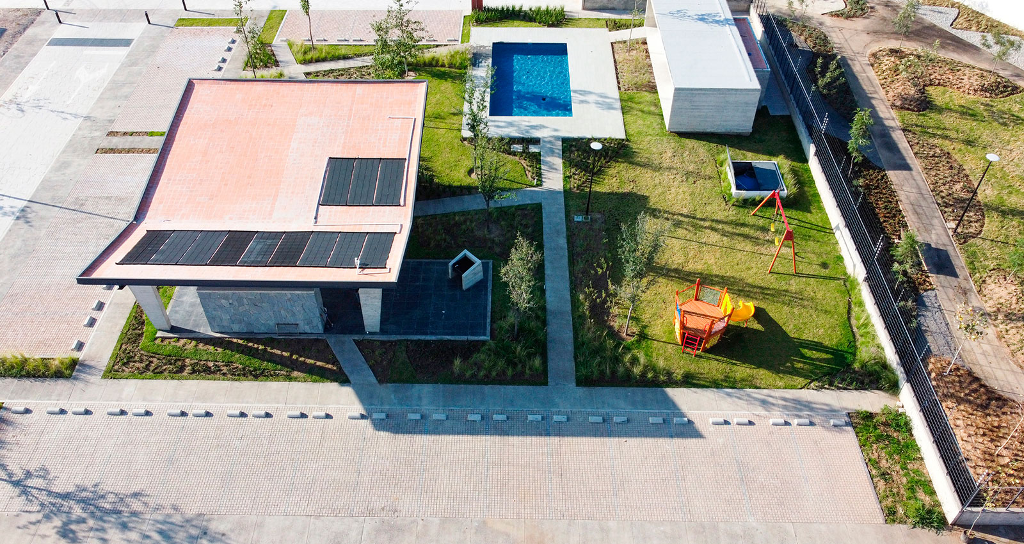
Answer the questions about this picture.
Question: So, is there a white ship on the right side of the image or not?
No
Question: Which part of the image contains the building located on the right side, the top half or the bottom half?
top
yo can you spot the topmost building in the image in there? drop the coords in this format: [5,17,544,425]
[645,0,761,132]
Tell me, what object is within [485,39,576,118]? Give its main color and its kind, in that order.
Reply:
blue swimming pool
